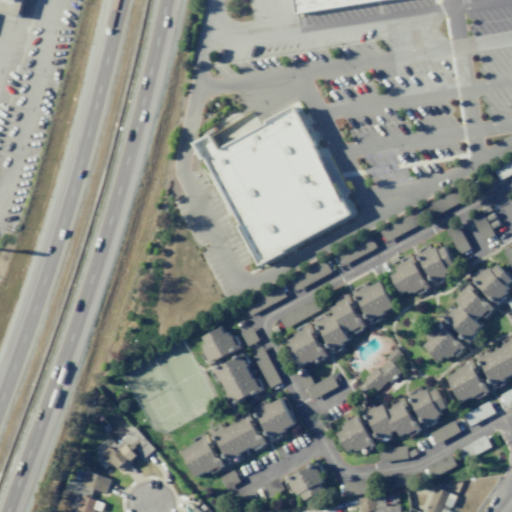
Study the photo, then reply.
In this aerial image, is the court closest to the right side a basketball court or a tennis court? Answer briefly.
basketball court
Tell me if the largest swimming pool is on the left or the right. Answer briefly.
right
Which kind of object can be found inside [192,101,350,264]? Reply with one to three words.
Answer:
building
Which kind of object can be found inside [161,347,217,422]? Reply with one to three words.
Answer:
basketball court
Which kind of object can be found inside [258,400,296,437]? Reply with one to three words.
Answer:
house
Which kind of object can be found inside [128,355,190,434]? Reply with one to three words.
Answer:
tennis court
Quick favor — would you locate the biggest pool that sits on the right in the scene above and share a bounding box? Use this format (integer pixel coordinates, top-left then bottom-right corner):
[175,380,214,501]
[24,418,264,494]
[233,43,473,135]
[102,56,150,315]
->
[360,338,382,362]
